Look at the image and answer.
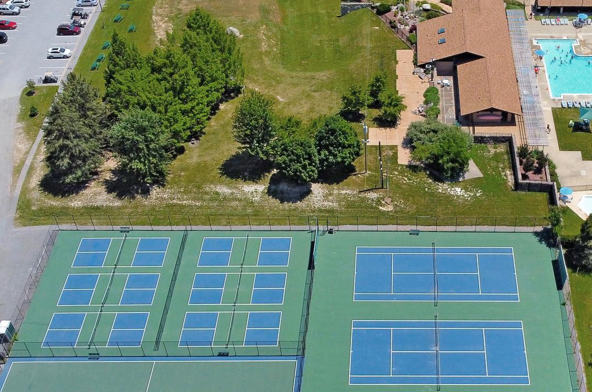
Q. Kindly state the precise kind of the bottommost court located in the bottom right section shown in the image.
tennis court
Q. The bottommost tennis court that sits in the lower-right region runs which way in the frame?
horizontally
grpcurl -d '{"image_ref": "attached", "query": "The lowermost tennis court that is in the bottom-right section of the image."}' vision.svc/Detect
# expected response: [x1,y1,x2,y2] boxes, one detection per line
[349,320,530,384]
